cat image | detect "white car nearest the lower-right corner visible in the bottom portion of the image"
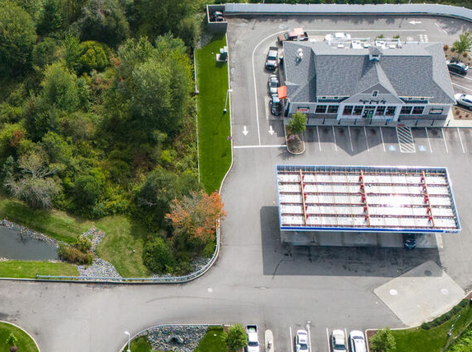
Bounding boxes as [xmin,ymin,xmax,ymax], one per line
[350,332,367,352]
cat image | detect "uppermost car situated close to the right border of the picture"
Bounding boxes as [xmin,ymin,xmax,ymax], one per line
[445,60,471,75]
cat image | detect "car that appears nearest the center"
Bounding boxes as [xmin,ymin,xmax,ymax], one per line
[270,96,283,115]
